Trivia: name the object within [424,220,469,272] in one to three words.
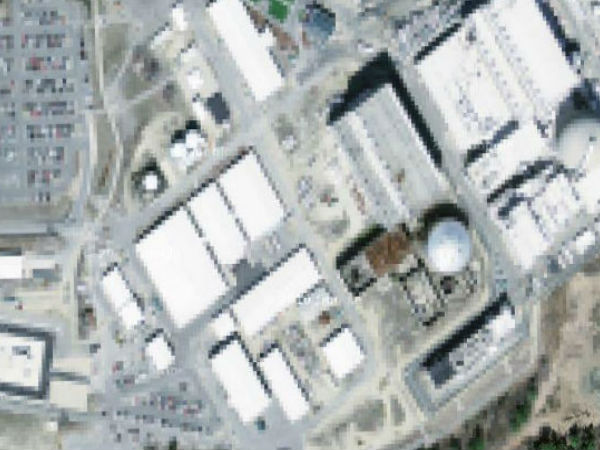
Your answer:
building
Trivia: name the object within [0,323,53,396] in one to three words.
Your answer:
building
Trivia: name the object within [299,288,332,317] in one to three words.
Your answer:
shed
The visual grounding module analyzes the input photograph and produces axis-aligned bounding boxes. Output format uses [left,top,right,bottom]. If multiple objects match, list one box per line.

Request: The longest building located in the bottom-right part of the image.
[424,306,517,390]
